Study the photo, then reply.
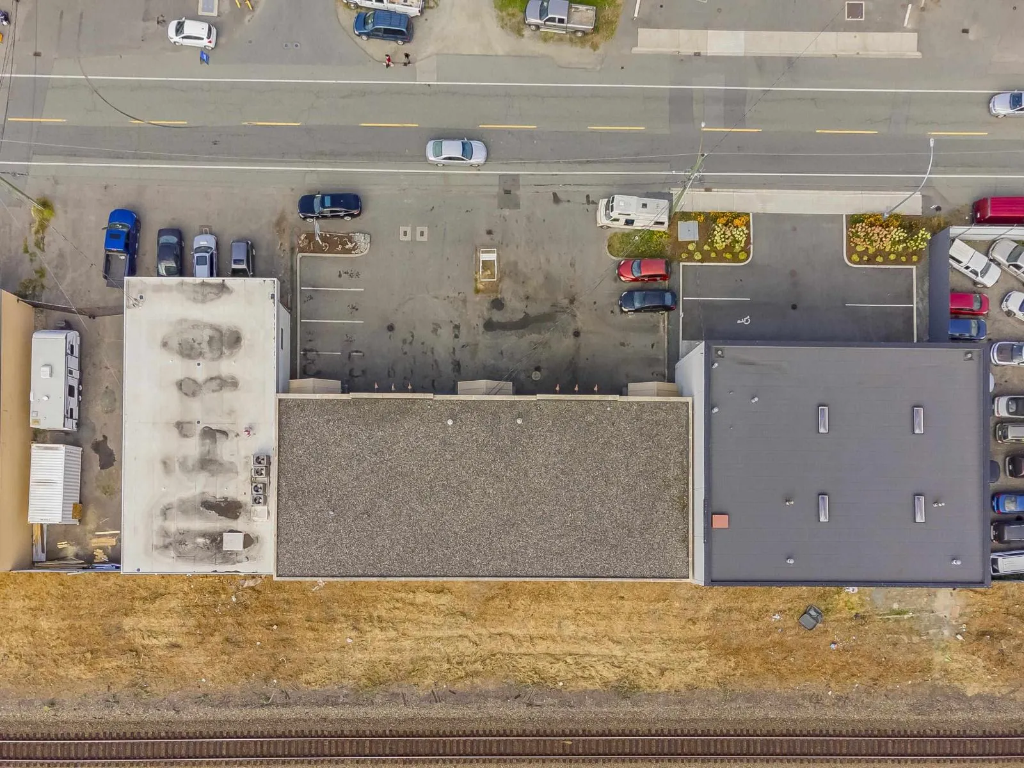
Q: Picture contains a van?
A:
Yes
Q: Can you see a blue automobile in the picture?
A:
Yes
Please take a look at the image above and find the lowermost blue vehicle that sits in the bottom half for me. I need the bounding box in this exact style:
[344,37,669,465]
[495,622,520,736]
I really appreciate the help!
[990,492,1024,515]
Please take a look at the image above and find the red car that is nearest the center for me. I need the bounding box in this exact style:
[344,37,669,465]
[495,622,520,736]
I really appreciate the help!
[616,256,671,284]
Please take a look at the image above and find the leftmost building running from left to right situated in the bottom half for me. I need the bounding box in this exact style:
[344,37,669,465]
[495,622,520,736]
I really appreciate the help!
[274,381,692,582]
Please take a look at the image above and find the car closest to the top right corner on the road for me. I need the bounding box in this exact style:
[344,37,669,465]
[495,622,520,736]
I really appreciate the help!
[985,88,1024,121]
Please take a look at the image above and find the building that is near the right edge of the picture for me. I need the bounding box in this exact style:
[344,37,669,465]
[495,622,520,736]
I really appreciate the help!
[676,341,991,587]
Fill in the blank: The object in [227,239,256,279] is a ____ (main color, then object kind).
gray car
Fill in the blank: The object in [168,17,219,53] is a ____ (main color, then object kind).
white car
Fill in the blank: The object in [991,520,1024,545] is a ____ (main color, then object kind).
gray truck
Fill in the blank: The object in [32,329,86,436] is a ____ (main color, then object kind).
white trailer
